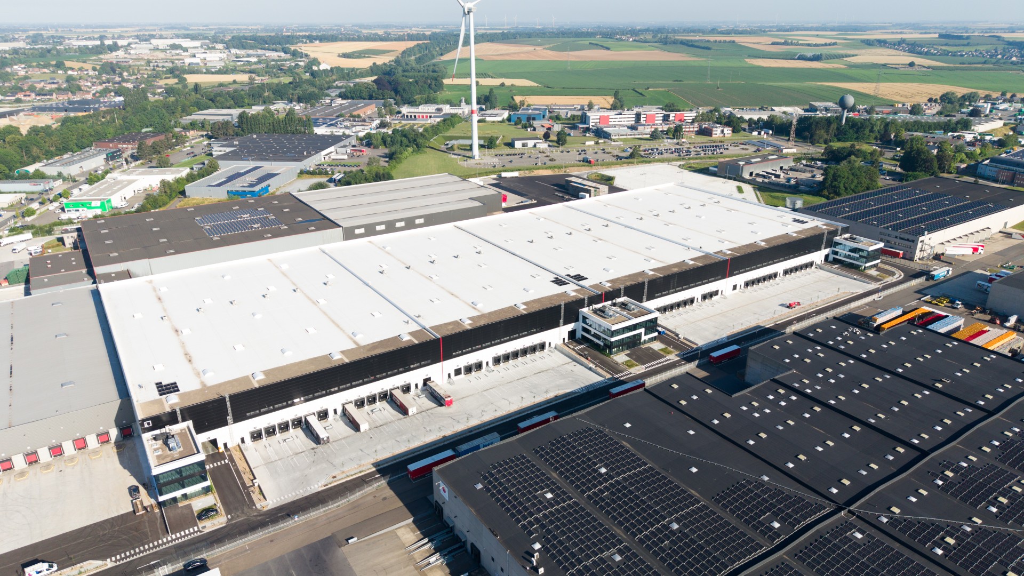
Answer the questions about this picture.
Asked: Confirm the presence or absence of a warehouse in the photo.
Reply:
Yes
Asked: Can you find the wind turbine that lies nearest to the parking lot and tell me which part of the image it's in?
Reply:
top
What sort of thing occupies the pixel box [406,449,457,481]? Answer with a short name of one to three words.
trailer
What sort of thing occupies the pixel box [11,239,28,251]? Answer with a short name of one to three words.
vehicle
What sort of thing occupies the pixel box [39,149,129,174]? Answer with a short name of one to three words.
shed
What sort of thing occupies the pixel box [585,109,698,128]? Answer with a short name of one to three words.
building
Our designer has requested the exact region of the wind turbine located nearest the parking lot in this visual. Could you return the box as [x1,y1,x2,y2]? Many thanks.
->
[458,0,490,160]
